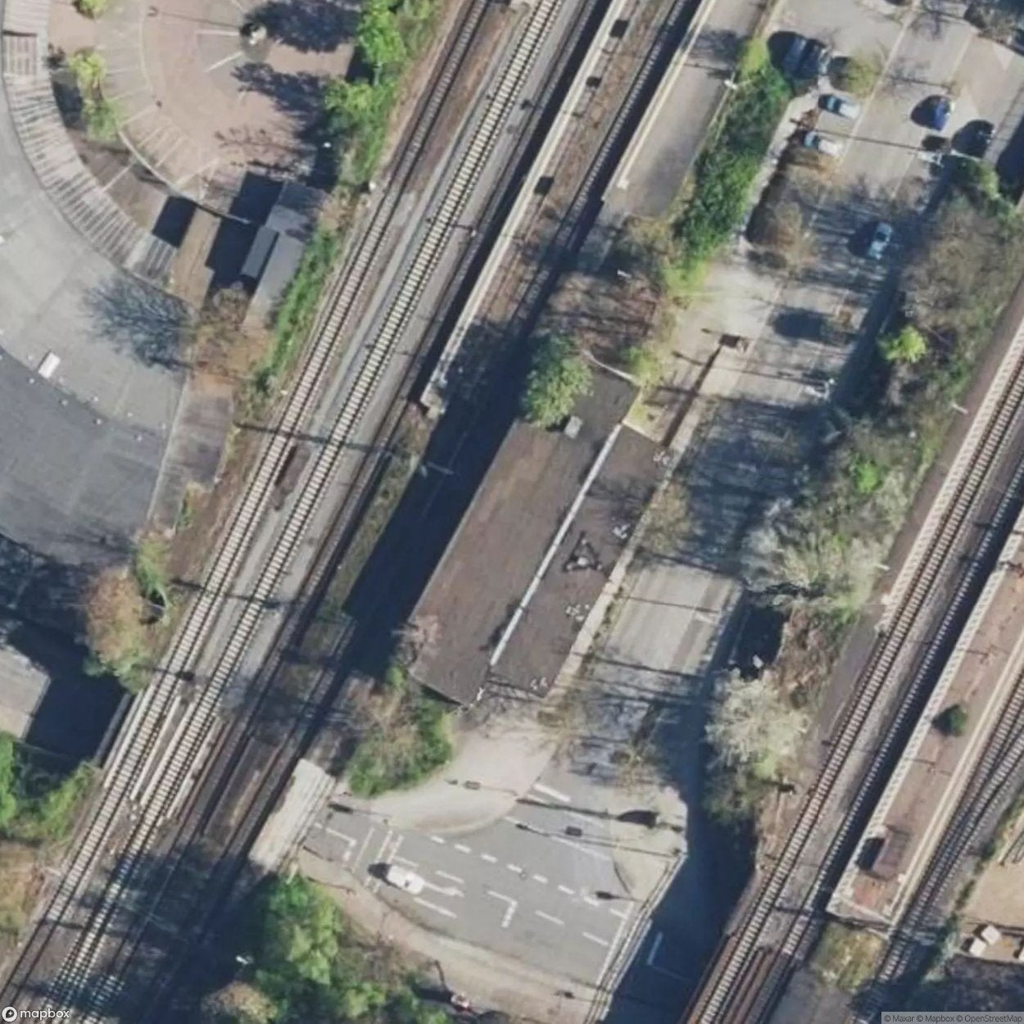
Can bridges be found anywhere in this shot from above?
Yes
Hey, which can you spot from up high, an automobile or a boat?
automobile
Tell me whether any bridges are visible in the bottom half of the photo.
Yes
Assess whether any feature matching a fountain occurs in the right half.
No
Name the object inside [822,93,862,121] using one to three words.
car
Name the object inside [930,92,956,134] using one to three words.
car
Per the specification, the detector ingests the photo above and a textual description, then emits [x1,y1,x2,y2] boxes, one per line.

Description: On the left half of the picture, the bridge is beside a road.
[94,686,338,874]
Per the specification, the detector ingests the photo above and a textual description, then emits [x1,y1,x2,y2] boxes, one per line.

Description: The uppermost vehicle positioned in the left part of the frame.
[383,865,426,895]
